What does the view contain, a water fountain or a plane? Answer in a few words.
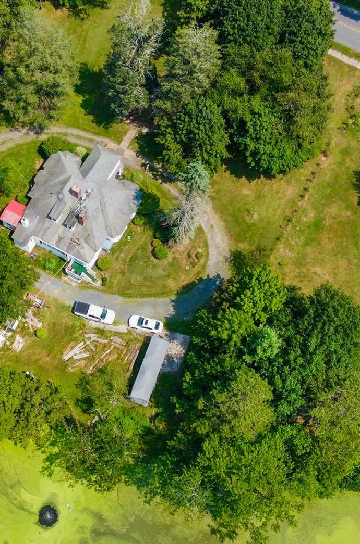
water fountain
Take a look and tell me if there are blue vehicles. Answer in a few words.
No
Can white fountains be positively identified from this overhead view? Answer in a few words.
No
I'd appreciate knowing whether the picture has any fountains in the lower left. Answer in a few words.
Yes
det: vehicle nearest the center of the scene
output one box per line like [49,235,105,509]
[127,316,165,336]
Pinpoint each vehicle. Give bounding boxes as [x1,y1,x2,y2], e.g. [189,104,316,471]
[71,302,117,324]
[127,316,165,336]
